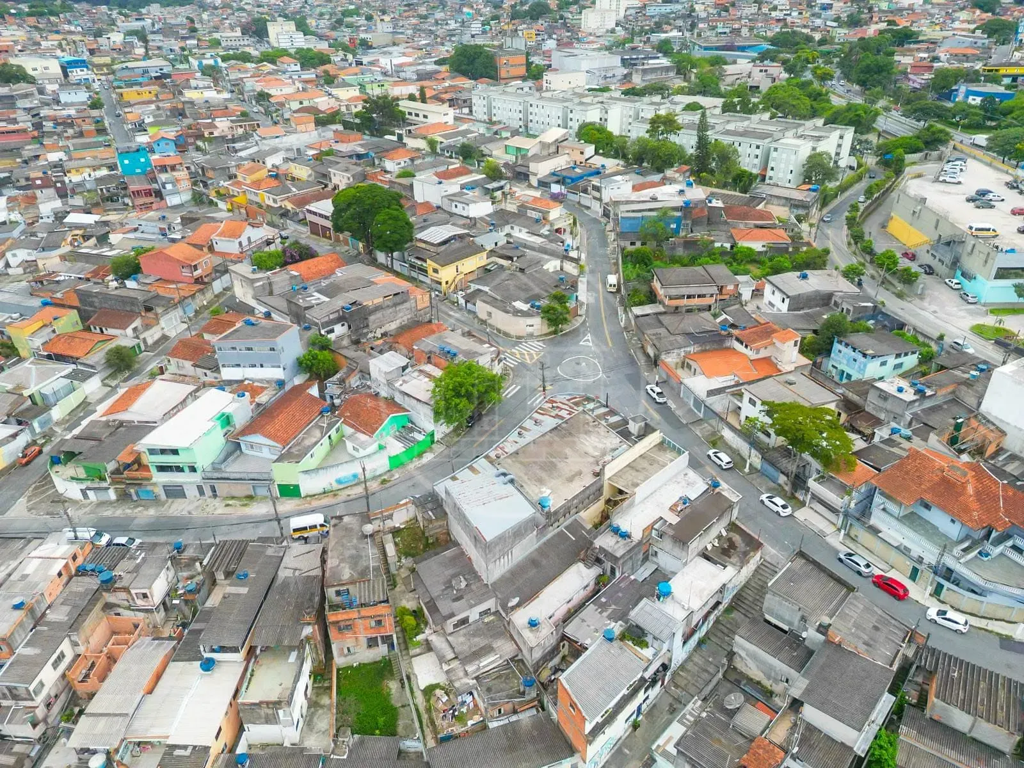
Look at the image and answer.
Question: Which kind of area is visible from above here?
residential area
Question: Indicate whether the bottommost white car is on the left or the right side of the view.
right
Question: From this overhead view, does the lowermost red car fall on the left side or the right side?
right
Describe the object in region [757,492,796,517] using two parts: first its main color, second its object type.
white car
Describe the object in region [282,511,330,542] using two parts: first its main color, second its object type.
white van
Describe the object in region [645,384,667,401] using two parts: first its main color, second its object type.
white car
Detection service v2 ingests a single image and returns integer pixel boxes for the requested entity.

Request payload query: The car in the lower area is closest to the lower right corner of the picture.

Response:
[924,605,973,635]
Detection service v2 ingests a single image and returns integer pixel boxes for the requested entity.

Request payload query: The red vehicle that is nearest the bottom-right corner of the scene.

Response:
[872,575,917,606]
